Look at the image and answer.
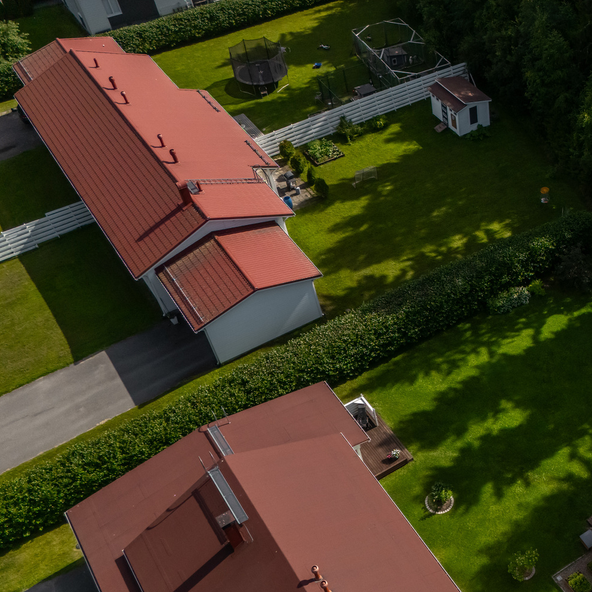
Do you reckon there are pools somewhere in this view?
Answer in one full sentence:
No, there is no pool in the image.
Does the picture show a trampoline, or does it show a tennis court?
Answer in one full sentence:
There is a trampoline in the scene.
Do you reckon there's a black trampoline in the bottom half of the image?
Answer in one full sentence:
No, the scene shows no black trampoline in the bottom half of the image.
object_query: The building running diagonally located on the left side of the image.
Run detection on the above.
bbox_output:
[11,35,326,357]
